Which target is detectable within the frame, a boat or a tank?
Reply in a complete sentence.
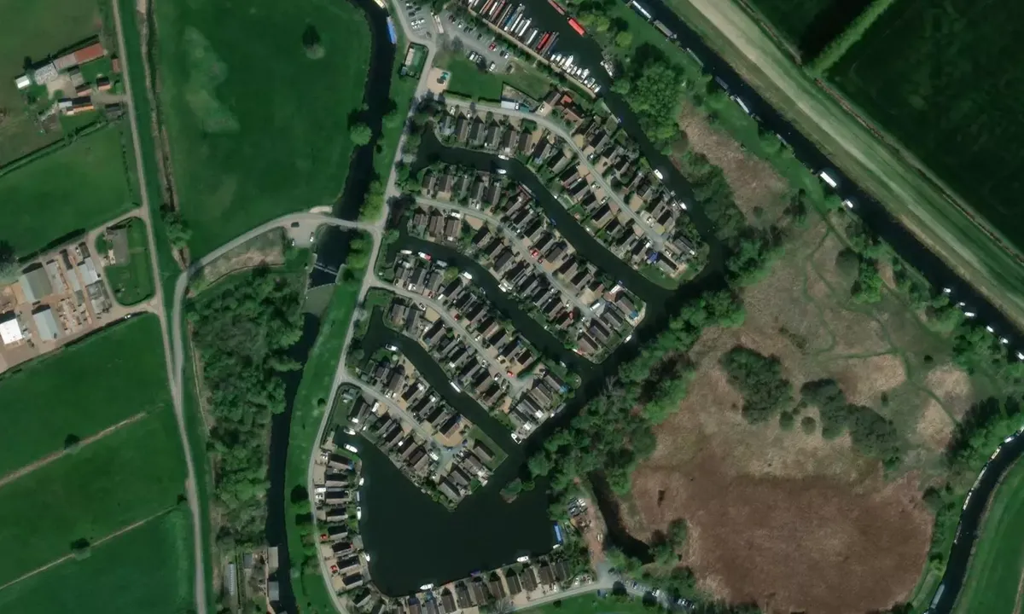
The one in the frame is a boat.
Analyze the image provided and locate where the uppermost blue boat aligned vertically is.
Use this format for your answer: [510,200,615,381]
[385,17,397,43]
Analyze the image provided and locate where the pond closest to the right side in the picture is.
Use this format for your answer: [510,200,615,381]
[588,471,654,565]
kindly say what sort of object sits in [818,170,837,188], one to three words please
boat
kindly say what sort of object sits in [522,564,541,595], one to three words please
building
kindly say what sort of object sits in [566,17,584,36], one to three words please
boat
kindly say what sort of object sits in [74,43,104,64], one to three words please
barn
